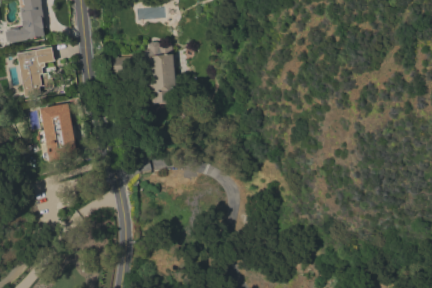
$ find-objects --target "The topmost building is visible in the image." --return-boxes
[4,0,44,44]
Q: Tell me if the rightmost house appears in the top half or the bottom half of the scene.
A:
top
